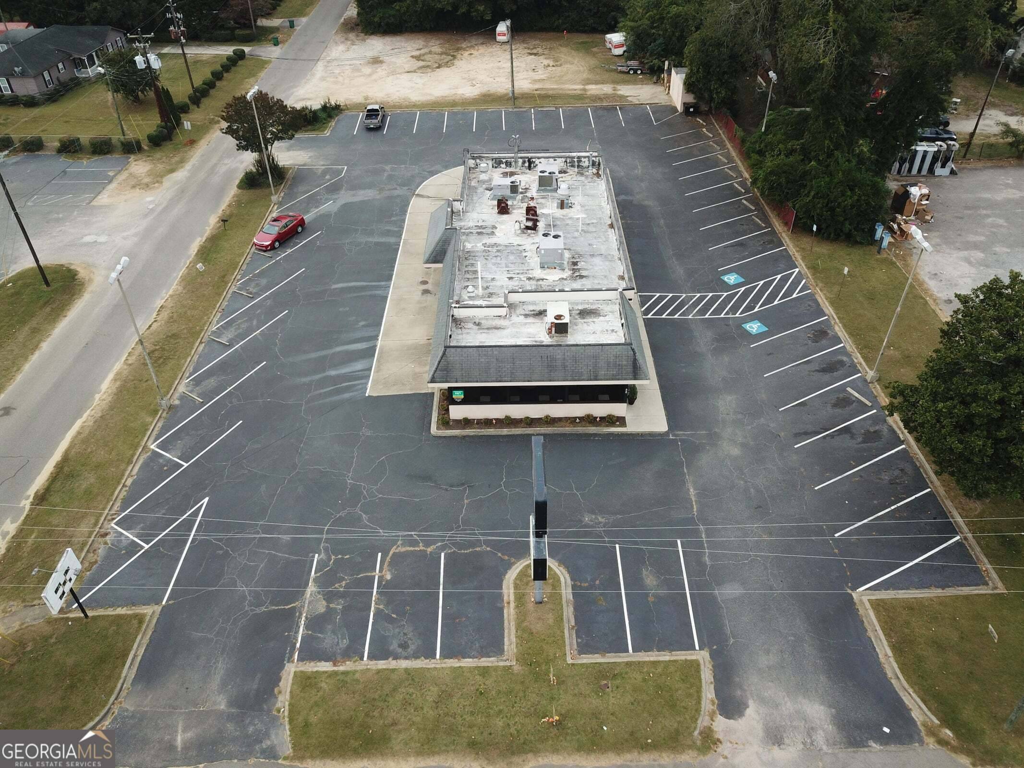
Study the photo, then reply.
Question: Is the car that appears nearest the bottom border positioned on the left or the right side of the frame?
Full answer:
It is on the left.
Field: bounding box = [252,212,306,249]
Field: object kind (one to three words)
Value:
car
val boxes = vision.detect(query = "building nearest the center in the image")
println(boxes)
[422,133,651,419]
